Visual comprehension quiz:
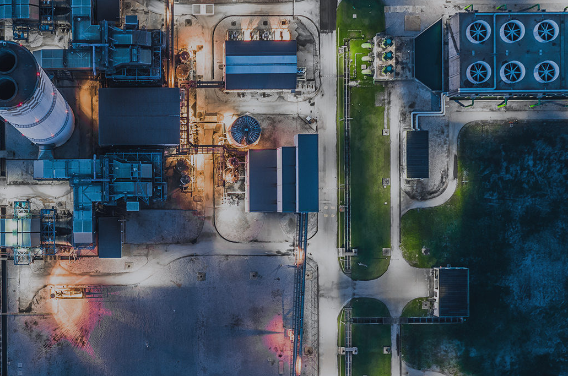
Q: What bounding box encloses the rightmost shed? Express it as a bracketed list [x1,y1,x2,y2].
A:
[423,267,471,317]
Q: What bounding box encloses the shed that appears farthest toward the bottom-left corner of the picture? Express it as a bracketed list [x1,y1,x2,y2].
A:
[98,218,125,260]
